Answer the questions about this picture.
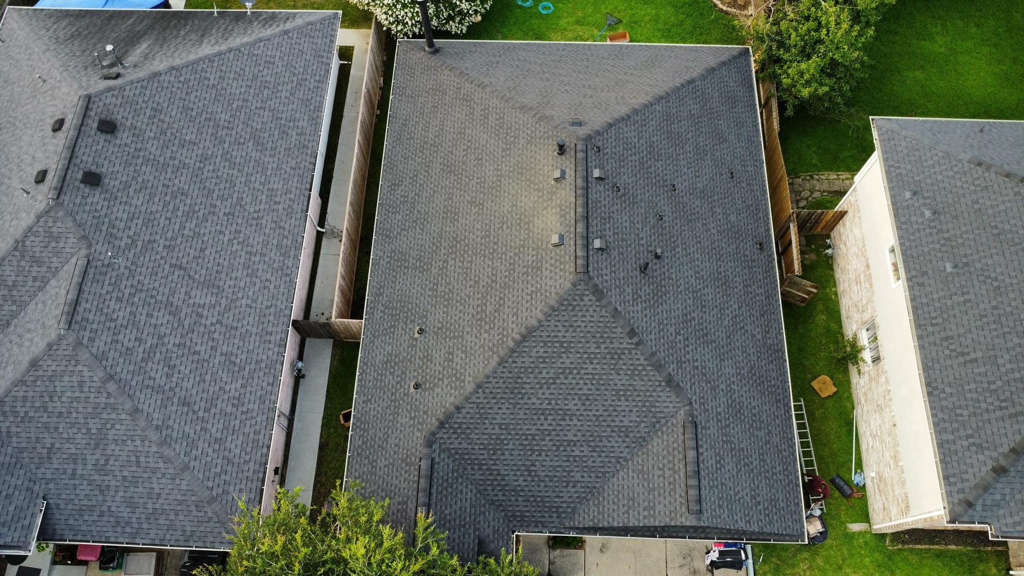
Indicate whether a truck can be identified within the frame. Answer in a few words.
No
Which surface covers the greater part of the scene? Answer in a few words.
buildings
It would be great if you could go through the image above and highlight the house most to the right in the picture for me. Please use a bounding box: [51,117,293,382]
[828,117,1024,541]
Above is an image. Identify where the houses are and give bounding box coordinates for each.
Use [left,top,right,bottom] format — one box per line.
[338,0,807,576]
[0,0,354,551]
[828,117,1024,541]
